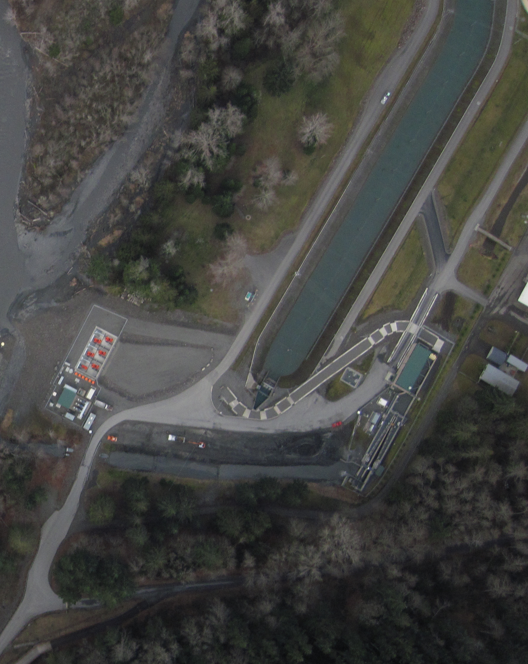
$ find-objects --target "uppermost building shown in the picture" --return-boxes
[510,276,528,313]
